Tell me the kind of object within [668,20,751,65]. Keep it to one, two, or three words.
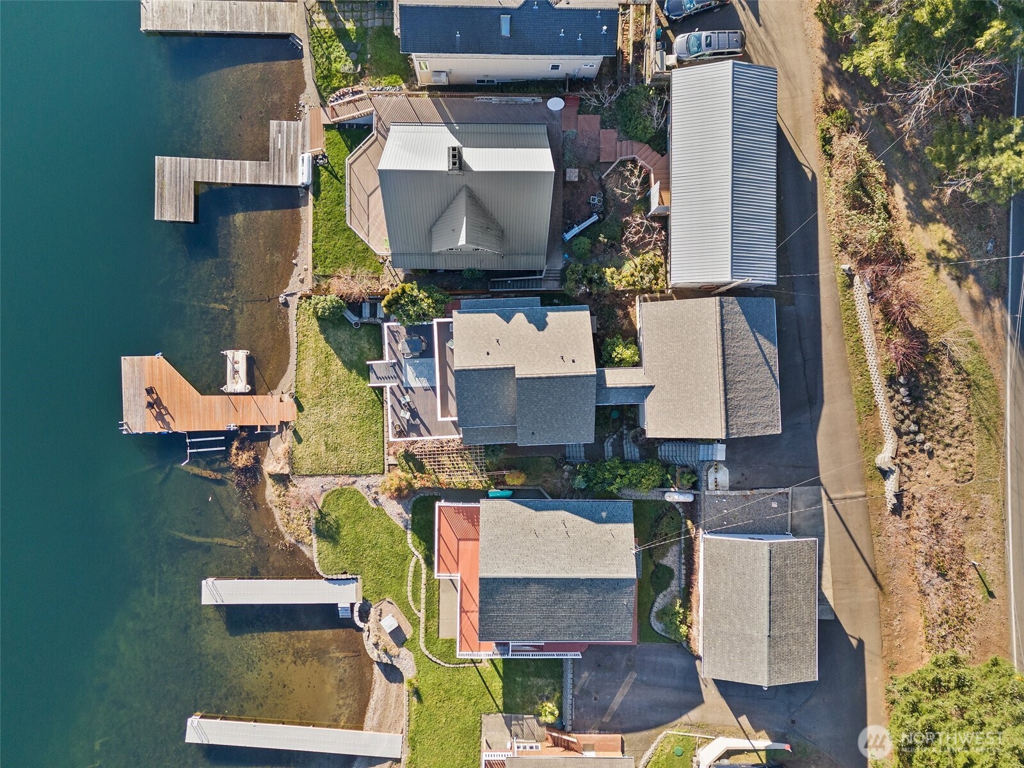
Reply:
vehicle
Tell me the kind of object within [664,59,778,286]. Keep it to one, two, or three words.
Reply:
building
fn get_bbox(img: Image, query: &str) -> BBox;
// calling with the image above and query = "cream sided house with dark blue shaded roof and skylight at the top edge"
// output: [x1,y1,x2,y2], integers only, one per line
[398,0,633,96]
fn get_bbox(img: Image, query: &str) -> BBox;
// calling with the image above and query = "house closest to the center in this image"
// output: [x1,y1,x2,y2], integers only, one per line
[453,295,597,448]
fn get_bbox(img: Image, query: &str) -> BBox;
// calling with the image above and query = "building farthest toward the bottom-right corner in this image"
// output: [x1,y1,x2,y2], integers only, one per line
[695,530,819,691]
